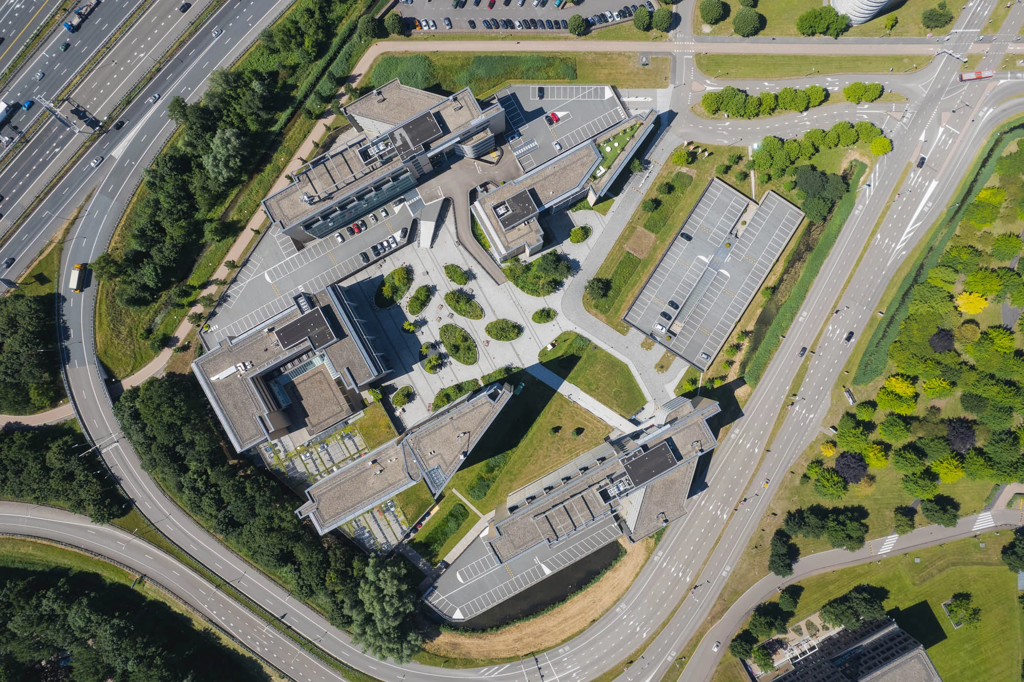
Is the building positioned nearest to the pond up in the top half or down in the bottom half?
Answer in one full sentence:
The bottom half of the photo is where the building positioned nearest to the pond is.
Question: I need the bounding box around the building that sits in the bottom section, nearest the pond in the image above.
[489,397,721,563]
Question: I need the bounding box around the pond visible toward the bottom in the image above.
[434,539,627,633]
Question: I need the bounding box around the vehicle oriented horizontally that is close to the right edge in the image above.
[958,69,996,82]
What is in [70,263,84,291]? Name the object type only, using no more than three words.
vehicle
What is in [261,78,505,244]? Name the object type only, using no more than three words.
building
